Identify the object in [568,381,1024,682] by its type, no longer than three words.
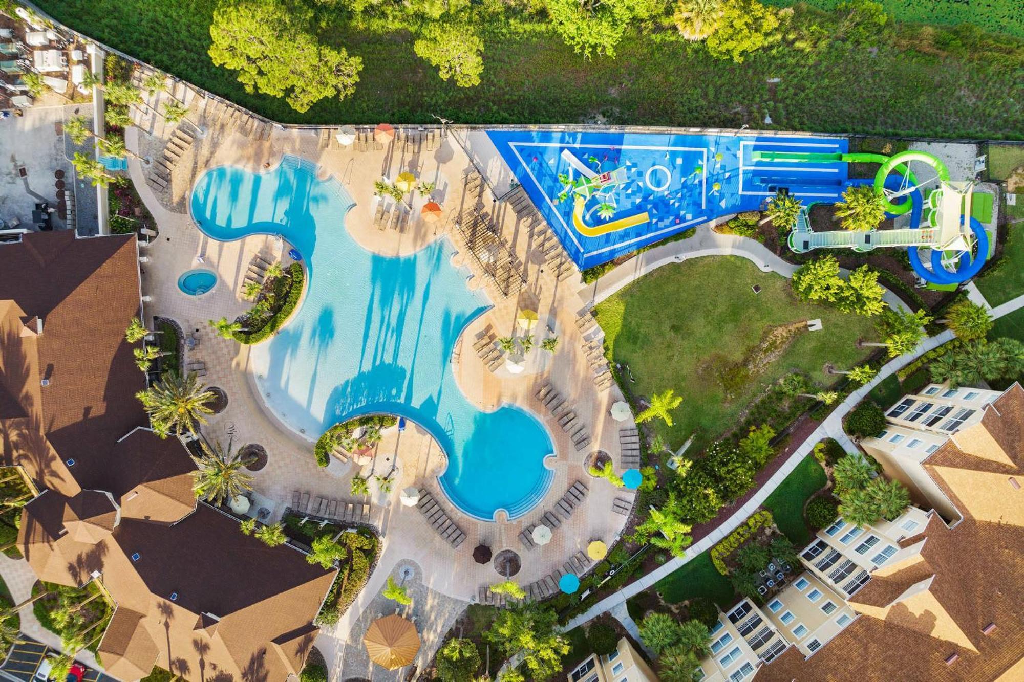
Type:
building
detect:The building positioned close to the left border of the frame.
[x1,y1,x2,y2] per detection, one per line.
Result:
[0,229,340,682]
